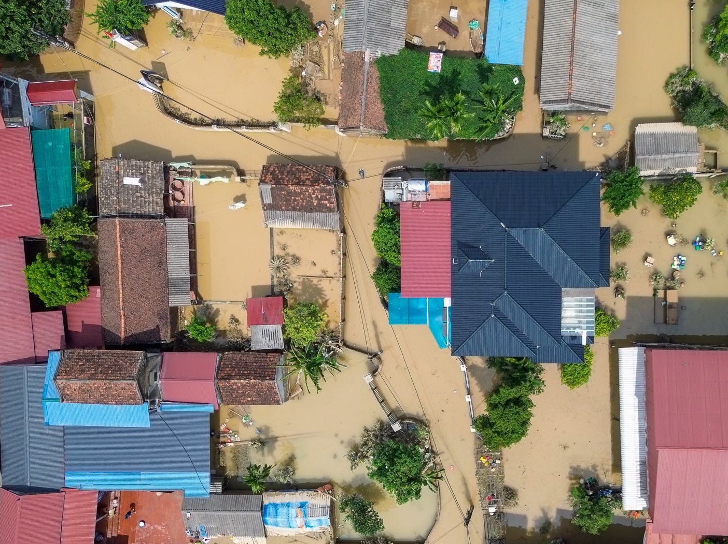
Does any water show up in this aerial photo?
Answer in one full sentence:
Yes, some water is visible.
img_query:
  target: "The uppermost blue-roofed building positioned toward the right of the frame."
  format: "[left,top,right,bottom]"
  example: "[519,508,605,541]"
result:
[484,0,528,67]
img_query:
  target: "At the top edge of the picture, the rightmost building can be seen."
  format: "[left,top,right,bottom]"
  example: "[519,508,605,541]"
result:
[539,0,618,118]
